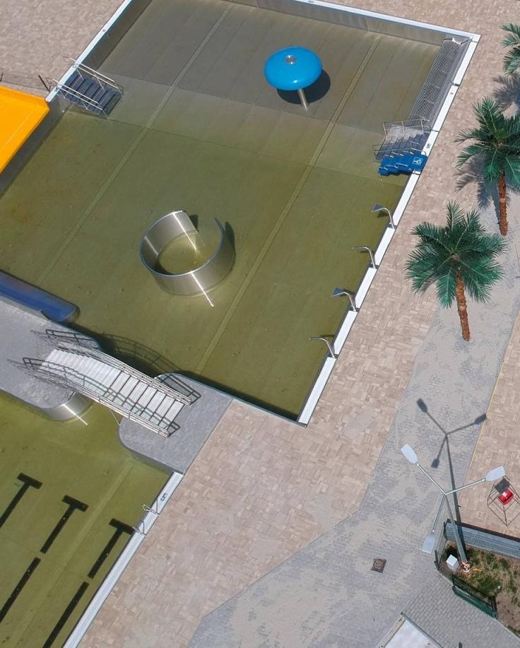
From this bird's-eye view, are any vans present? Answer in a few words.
No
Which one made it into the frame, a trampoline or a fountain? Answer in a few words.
fountain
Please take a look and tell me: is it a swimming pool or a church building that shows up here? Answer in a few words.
swimming pool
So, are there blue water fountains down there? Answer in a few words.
Yes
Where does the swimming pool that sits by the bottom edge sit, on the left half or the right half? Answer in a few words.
left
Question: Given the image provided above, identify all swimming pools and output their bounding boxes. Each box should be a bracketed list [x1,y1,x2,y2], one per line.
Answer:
[0,438,185,648]
[0,0,482,484]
